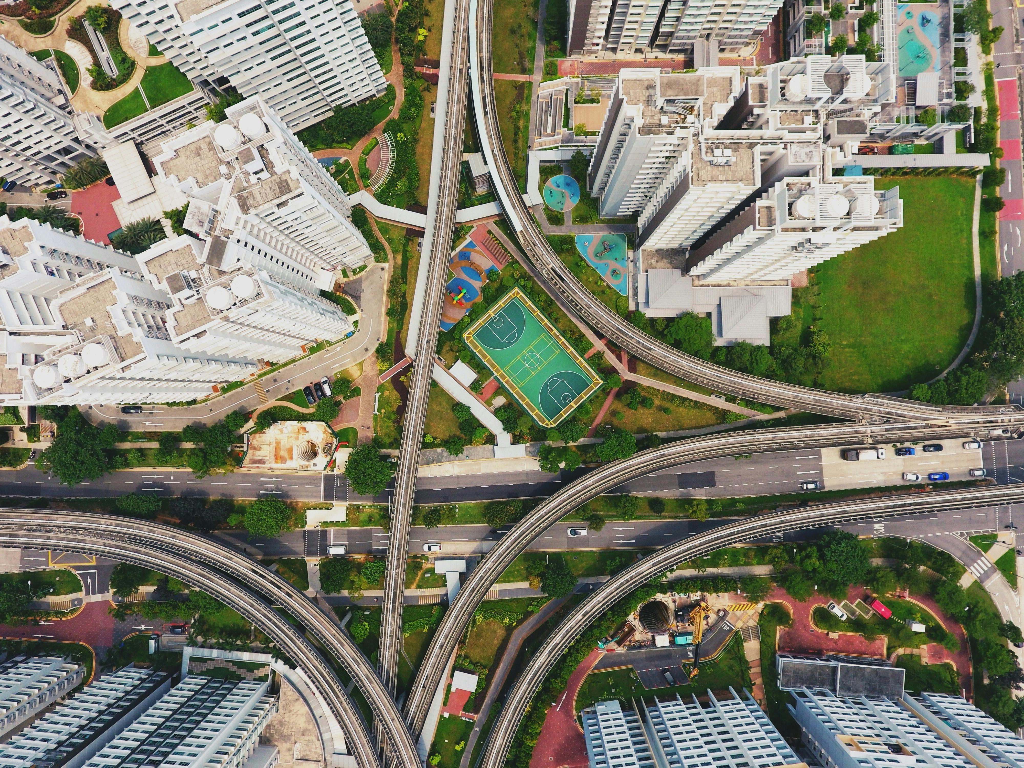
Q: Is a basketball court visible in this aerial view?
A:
Yes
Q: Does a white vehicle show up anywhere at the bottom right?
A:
Yes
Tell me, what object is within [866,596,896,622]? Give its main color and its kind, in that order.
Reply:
red truck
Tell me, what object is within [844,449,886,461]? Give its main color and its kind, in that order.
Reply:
white vehicle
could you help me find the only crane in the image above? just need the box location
[683,599,717,676]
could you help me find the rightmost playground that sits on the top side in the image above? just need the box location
[897,4,940,77]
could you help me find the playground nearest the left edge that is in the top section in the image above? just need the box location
[441,236,503,332]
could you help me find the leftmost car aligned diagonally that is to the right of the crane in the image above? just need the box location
[829,603,846,619]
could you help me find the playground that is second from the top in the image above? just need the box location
[543,174,580,212]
